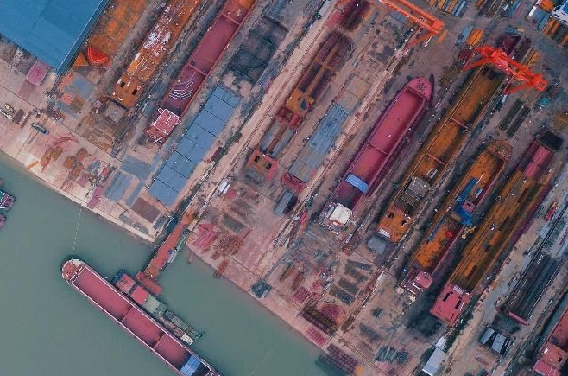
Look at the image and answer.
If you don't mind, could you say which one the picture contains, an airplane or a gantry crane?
gantry crane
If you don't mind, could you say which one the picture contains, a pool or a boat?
boat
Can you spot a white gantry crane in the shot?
No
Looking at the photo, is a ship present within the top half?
Yes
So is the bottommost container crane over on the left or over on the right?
right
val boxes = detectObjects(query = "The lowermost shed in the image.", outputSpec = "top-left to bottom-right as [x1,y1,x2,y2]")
[417,346,447,376]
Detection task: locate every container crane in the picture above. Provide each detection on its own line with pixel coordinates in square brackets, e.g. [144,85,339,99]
[460,41,546,99]
[371,0,447,50]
